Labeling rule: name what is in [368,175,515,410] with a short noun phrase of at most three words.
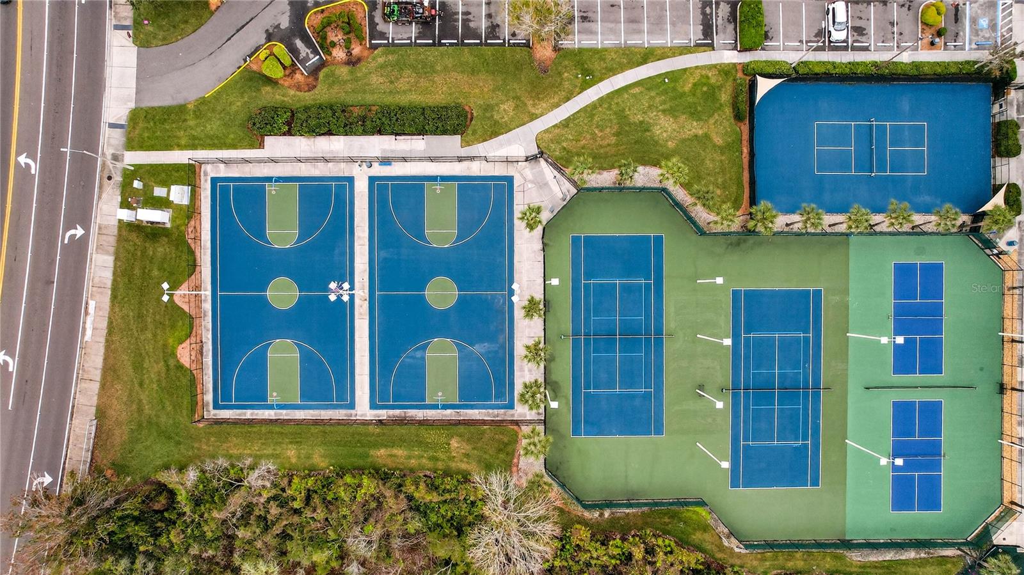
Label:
basketball court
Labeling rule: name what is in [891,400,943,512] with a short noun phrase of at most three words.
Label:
sports court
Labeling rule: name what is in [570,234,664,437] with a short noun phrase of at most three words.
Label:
tennis court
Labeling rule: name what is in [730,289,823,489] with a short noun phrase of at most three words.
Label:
tennis court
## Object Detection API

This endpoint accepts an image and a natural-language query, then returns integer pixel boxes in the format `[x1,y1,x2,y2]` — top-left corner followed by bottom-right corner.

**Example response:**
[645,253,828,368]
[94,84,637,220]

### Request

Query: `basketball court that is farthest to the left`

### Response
[210,176,356,411]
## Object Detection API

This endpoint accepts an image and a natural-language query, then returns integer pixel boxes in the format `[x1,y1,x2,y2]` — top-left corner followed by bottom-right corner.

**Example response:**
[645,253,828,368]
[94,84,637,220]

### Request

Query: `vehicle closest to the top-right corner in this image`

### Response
[827,1,850,42]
